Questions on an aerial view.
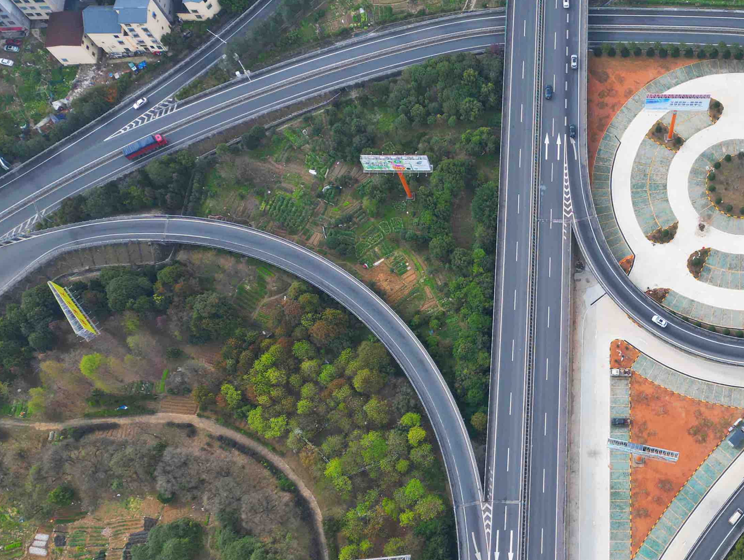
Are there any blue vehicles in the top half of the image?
Yes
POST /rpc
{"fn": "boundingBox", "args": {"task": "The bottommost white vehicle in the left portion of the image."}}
[133,96,150,109]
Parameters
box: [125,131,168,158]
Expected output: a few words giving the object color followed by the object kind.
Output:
blue truck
